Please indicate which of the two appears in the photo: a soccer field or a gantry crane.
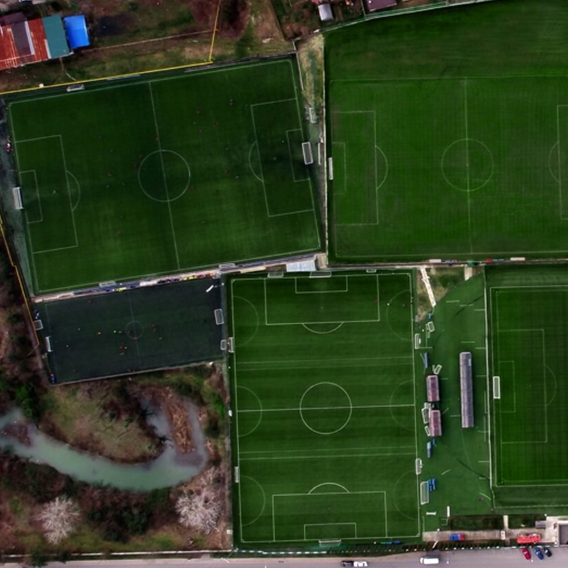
soccer field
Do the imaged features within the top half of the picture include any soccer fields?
Yes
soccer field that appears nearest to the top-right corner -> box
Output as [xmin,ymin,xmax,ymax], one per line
[324,0,568,264]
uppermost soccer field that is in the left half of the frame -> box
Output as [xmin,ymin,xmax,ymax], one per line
[2,53,322,297]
